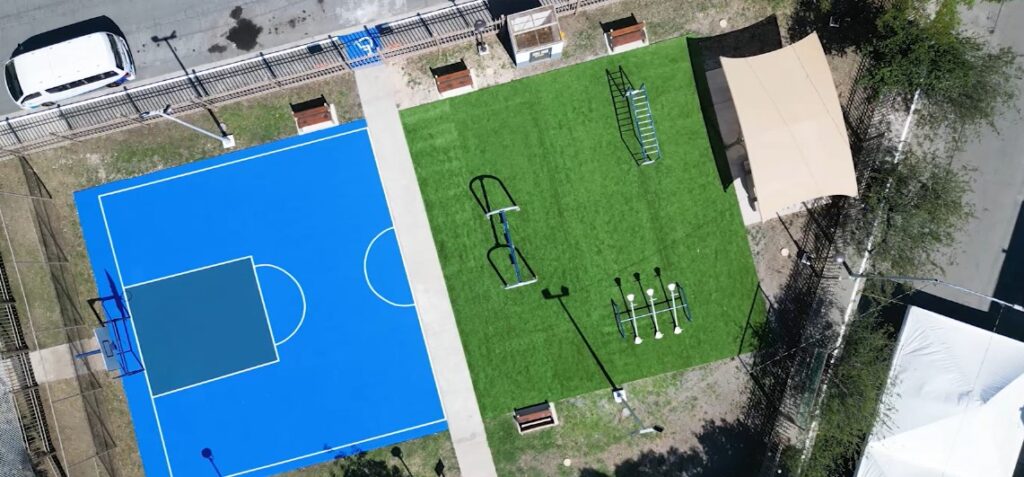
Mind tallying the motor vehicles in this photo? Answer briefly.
1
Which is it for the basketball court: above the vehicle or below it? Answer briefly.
below it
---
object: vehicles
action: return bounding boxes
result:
[7,34,138,108]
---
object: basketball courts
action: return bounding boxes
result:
[75,121,450,477]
